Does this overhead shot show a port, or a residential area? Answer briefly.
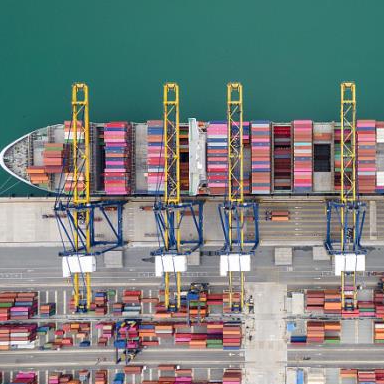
port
